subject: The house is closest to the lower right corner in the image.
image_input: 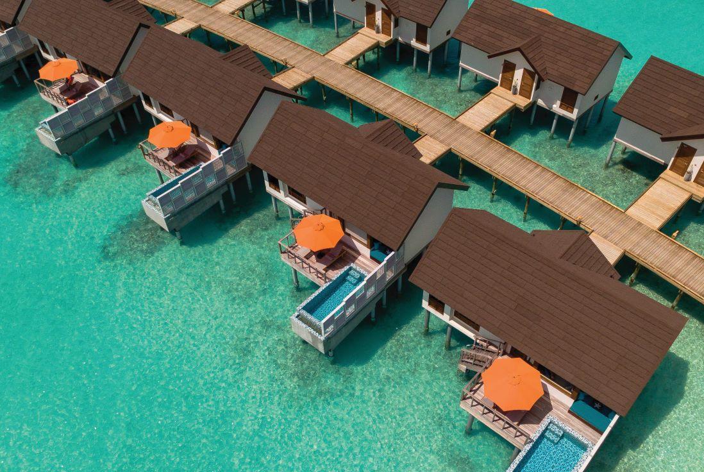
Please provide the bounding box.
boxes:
[409,207,688,472]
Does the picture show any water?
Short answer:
Yes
